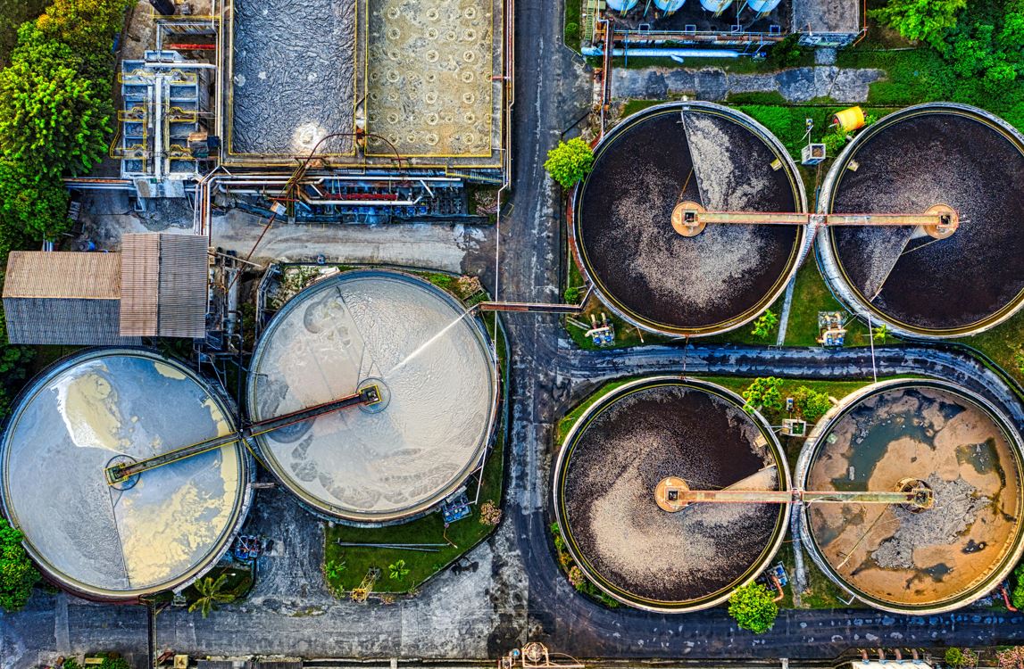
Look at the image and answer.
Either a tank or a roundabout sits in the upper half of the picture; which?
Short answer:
tank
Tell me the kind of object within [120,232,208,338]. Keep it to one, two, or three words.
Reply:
shed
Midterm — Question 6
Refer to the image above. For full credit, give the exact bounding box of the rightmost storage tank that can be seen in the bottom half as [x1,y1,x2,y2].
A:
[789,376,1024,615]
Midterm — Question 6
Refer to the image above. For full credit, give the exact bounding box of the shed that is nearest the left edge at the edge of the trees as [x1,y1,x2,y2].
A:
[2,251,143,345]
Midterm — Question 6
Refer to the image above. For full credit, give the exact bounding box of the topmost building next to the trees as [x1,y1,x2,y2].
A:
[781,0,868,48]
